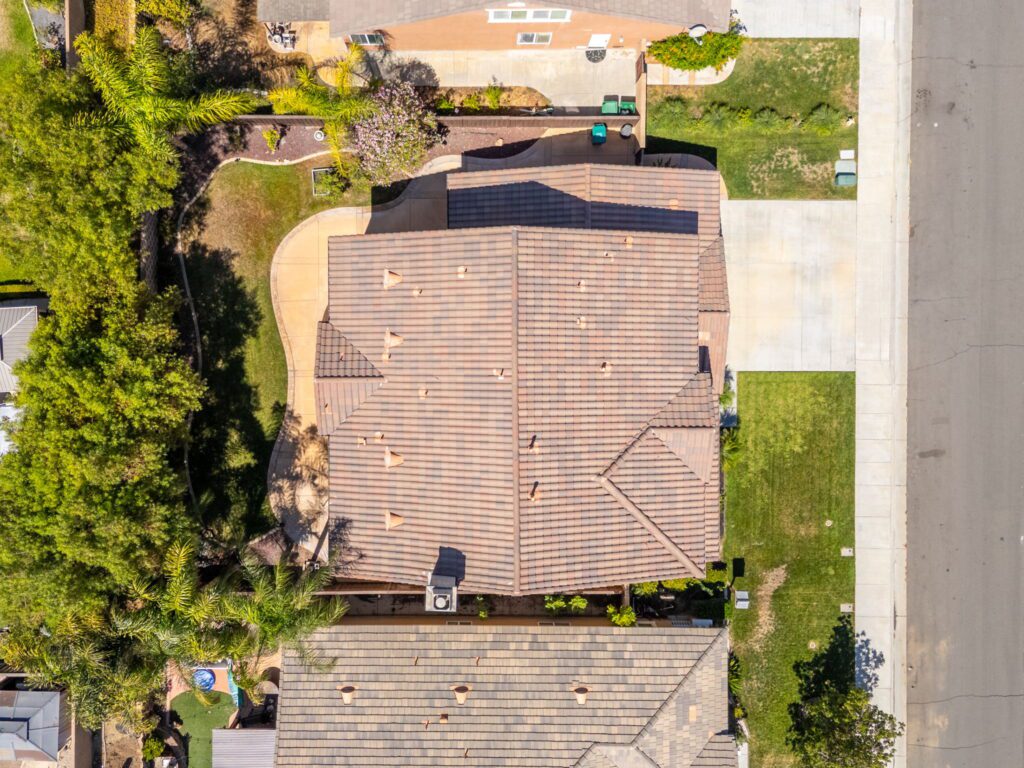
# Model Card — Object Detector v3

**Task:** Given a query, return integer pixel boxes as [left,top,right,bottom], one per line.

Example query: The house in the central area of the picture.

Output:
[311,160,732,611]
